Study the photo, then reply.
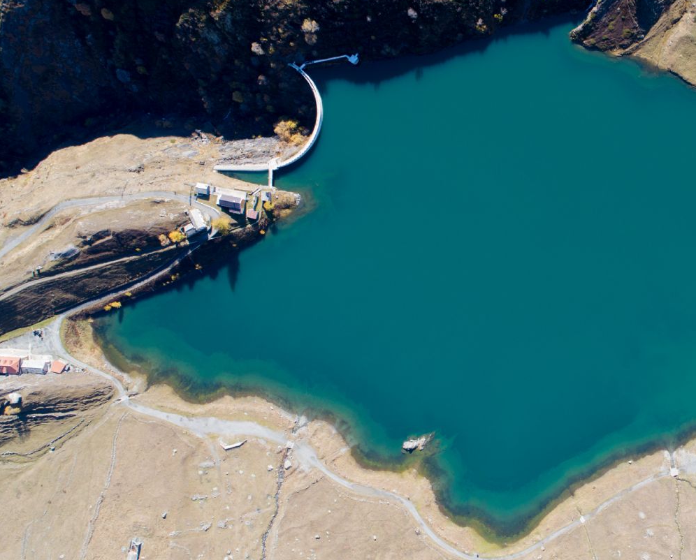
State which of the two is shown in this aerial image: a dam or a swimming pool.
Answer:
dam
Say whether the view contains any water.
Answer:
Yes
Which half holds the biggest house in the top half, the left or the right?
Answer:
left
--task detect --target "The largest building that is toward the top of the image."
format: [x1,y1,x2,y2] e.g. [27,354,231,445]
[217,189,253,211]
